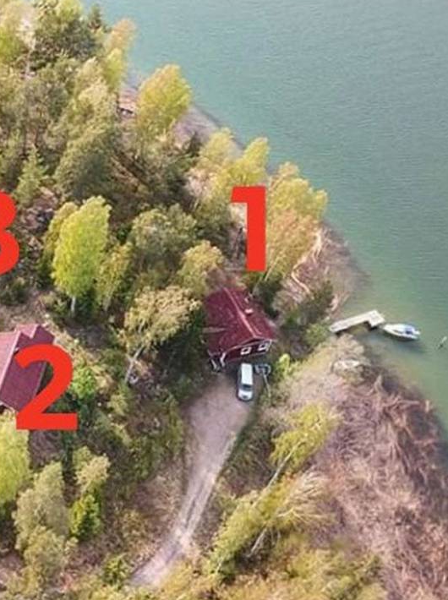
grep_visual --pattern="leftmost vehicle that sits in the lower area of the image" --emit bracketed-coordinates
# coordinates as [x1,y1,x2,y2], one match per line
[237,363,257,401]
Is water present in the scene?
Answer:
Yes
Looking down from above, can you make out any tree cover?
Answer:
Yes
